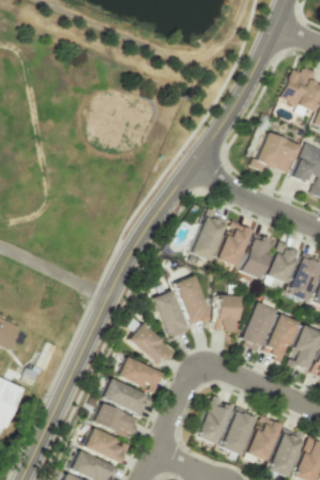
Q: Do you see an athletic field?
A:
Yes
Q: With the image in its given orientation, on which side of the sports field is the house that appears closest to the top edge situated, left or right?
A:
on the right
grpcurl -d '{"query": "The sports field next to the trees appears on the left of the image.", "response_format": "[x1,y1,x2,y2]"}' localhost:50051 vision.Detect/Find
[79,88,154,156]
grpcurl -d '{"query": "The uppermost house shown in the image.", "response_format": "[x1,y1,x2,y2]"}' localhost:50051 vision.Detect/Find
[279,65,320,114]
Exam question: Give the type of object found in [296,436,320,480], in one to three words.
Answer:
house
